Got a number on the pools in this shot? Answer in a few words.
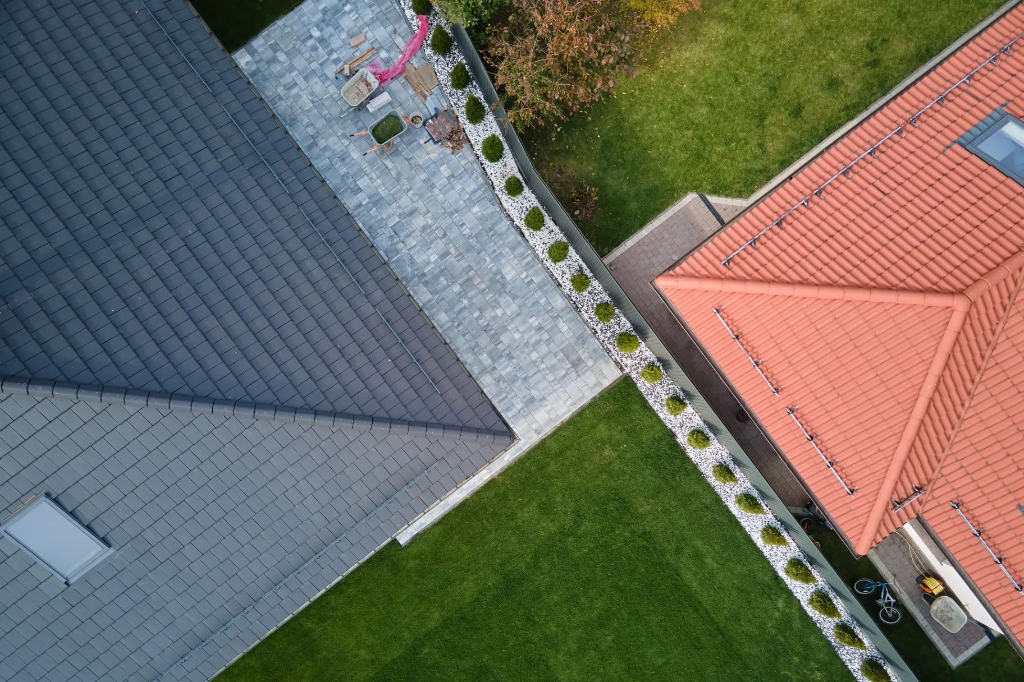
0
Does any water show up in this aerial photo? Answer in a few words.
No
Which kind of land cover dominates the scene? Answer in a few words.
buildings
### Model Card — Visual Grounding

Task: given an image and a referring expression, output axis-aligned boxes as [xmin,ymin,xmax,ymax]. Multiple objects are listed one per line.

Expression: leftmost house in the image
[0,0,521,682]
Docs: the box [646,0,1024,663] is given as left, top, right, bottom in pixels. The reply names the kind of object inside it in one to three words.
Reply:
house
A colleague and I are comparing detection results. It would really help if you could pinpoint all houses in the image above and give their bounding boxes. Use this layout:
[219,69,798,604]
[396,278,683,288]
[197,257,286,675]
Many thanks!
[0,0,521,682]
[646,0,1024,663]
